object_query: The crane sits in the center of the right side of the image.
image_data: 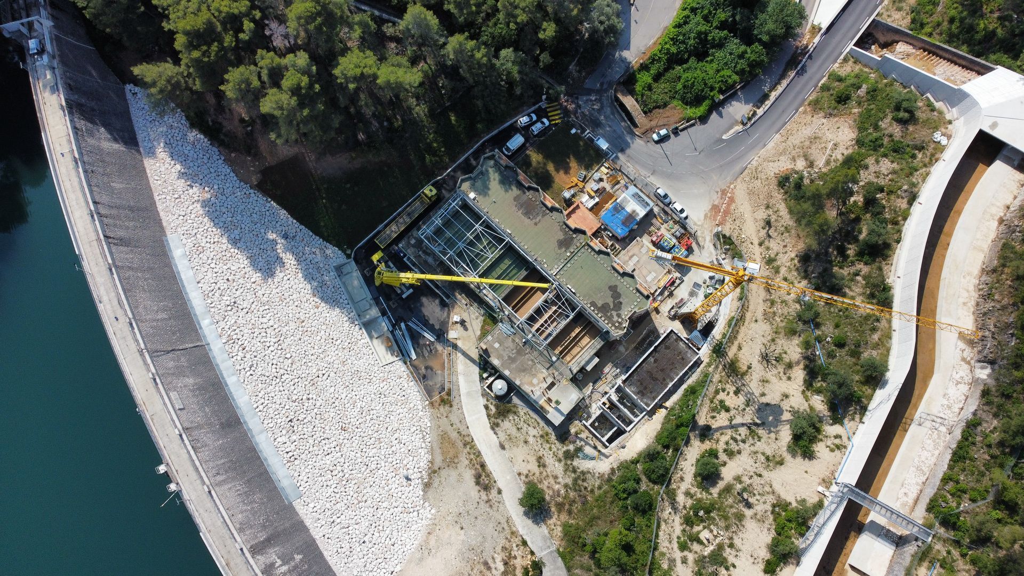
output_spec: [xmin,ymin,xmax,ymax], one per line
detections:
[648,249,986,342]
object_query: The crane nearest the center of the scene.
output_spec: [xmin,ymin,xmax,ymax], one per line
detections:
[366,248,551,308]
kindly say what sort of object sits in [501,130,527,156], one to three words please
vehicle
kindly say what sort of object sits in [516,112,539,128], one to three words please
car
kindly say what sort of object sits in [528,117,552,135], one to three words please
car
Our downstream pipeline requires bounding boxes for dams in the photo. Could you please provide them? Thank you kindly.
[12,0,336,576]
